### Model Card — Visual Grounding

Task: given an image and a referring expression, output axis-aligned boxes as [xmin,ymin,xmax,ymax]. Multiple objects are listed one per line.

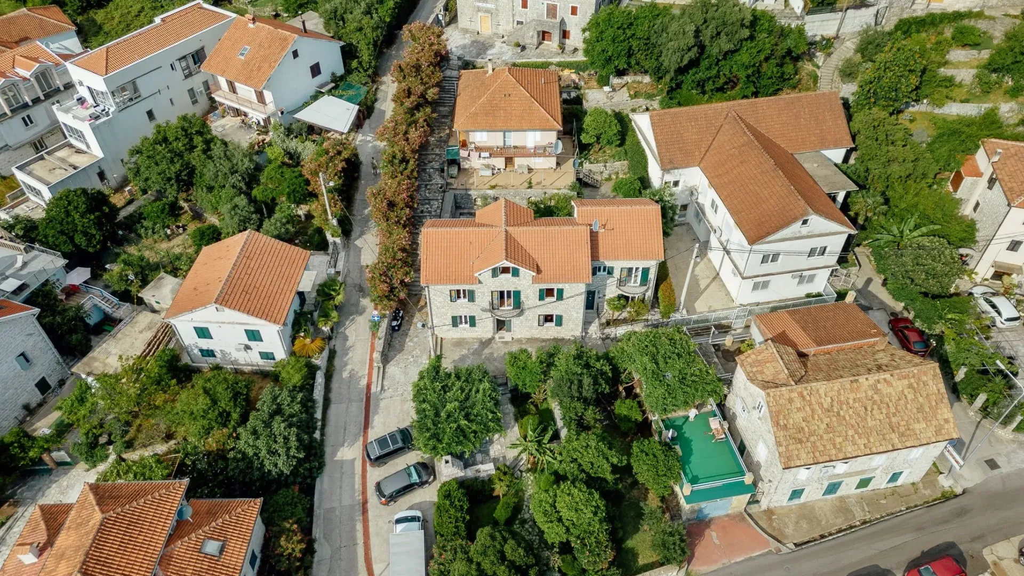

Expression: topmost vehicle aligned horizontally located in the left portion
[359,431,423,466]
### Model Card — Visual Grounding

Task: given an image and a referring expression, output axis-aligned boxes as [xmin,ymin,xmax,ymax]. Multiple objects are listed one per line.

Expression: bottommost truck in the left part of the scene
[385,510,432,576]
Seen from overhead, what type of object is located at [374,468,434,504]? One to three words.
car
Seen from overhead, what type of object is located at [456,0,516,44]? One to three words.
building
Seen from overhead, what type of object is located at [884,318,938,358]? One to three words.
car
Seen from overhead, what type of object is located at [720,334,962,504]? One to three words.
house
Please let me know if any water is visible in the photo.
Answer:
No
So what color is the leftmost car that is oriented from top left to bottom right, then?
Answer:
red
